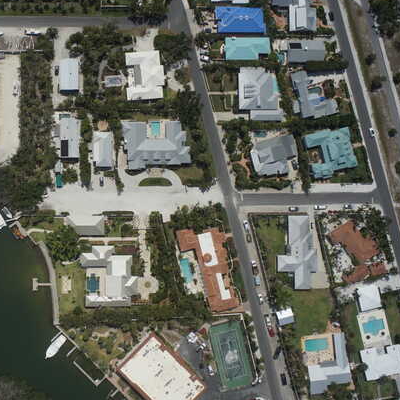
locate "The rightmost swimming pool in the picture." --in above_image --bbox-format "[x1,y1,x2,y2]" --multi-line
[362,317,386,335]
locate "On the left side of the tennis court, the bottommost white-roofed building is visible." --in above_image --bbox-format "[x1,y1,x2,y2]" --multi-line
[117,332,204,400]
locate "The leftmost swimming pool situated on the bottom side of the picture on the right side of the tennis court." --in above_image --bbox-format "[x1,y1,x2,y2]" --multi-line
[305,337,330,352]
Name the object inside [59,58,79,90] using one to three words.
house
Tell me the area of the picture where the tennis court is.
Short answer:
bottom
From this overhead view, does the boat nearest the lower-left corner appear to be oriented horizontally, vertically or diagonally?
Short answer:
diagonally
